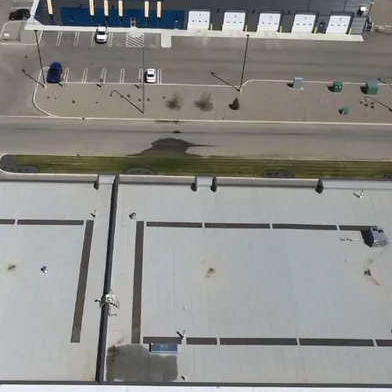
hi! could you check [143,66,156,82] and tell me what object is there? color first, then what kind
white vehicle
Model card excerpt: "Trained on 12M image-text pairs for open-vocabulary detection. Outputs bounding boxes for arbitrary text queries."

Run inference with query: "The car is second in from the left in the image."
[48,63,62,79]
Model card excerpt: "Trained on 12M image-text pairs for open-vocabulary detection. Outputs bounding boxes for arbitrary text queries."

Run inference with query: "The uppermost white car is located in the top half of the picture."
[96,24,108,41]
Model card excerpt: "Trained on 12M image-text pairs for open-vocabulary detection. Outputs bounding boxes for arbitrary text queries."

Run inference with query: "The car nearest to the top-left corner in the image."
[6,6,30,19]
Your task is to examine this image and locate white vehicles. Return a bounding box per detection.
[96,24,108,41]
[143,66,156,82]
